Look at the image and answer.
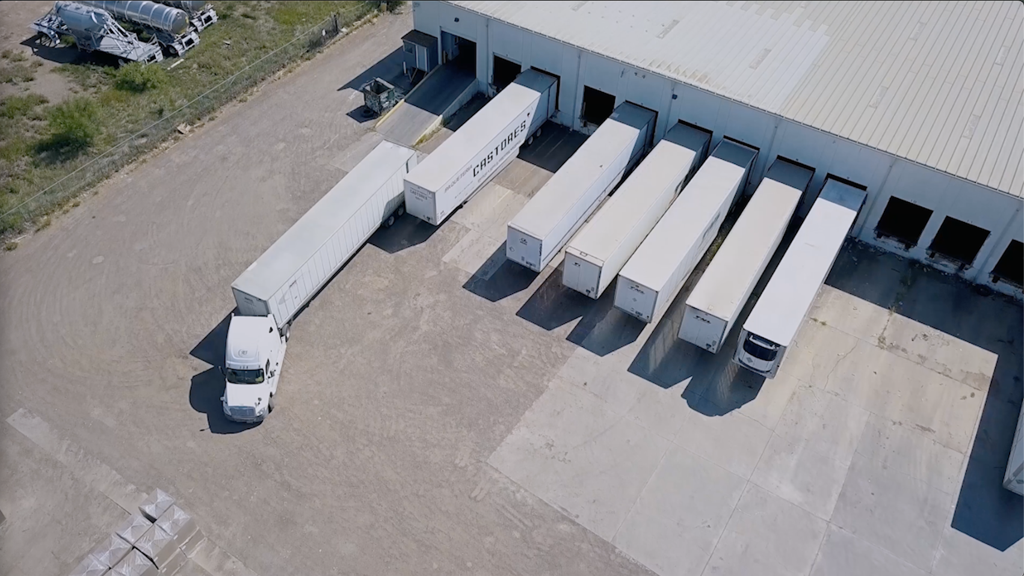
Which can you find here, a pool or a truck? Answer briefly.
truck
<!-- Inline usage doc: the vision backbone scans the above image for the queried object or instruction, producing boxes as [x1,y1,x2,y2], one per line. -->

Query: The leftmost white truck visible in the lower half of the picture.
[218,313,297,423]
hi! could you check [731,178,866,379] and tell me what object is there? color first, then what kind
white trailer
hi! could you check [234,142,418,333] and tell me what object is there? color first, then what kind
white trailer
